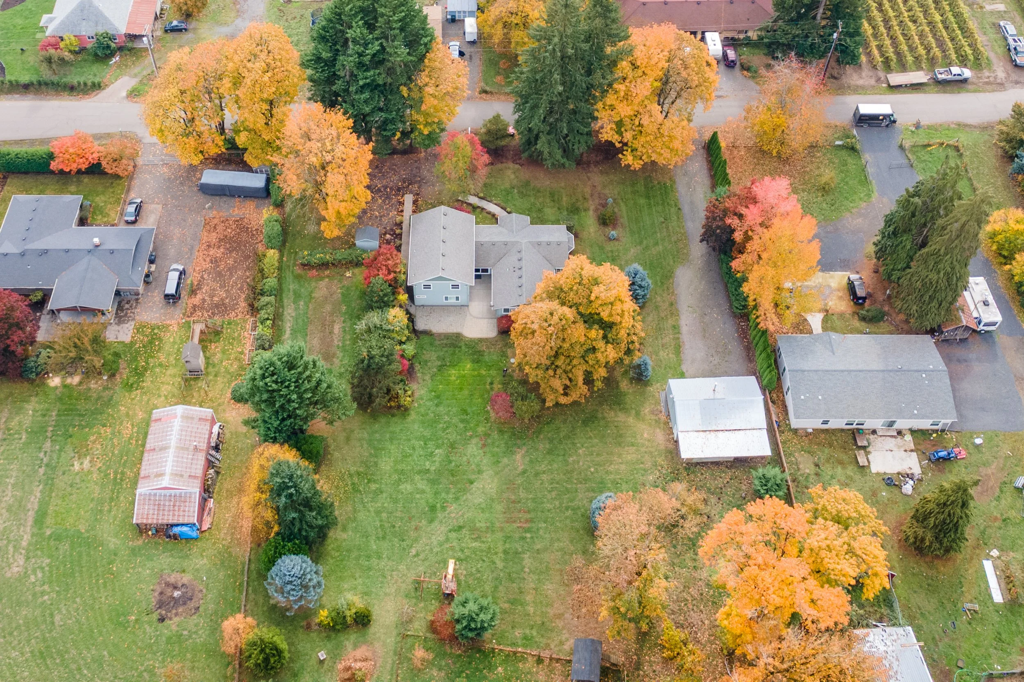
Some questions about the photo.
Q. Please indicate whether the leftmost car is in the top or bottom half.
top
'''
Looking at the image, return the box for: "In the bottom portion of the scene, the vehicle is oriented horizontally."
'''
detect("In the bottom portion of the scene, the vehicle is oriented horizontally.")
[926,445,969,468]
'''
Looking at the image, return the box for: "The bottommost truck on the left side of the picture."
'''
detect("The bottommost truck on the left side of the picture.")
[163,264,187,300]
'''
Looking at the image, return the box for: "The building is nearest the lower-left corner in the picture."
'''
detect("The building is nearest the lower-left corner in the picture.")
[131,404,215,533]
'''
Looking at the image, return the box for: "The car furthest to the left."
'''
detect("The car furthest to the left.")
[122,196,142,221]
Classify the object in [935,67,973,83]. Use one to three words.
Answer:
vehicle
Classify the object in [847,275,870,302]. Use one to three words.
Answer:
car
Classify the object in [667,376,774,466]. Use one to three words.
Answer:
building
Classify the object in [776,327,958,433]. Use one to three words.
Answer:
house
